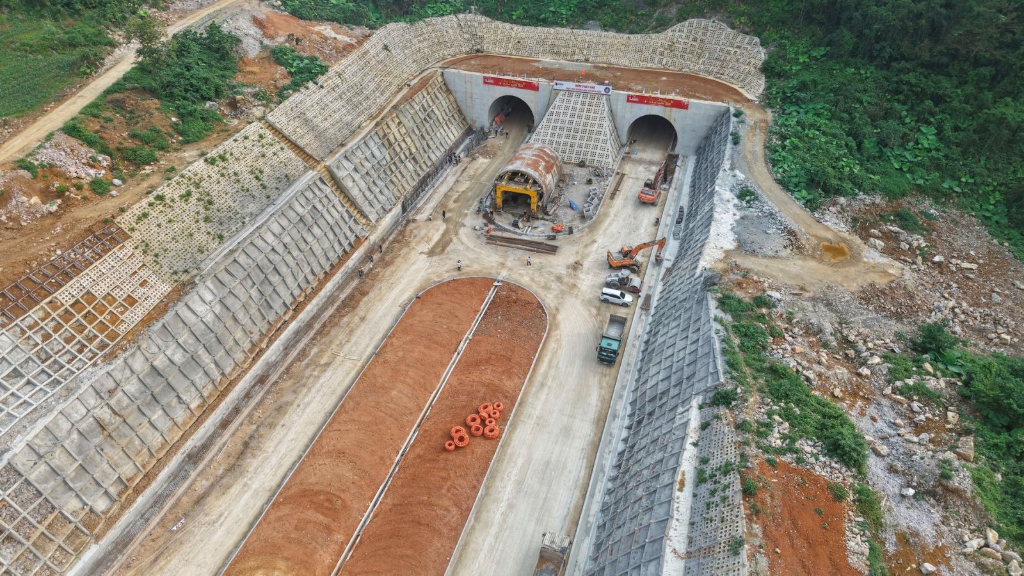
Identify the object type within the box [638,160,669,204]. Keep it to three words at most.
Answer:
work vehicle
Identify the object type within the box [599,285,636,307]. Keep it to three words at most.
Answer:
car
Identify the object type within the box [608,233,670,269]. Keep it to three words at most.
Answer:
work vehicle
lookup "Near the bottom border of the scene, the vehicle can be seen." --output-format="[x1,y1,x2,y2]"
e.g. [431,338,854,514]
[528,533,571,576]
